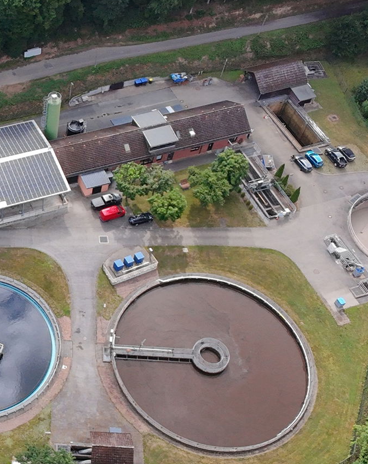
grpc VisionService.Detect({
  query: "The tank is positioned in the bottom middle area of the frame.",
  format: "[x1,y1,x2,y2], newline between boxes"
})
[102,277,310,451]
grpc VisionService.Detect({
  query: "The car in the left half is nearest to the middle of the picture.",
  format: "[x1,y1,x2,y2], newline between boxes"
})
[128,212,155,227]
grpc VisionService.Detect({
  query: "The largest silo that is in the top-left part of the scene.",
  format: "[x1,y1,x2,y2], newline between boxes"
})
[36,89,62,142]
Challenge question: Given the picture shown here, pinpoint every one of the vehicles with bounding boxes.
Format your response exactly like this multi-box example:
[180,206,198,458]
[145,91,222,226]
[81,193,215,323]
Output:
[337,143,361,161]
[128,212,155,227]
[304,145,326,166]
[92,191,123,208]
[98,203,128,222]
[292,152,316,172]
[325,144,351,167]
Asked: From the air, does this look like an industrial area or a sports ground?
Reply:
industrial area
